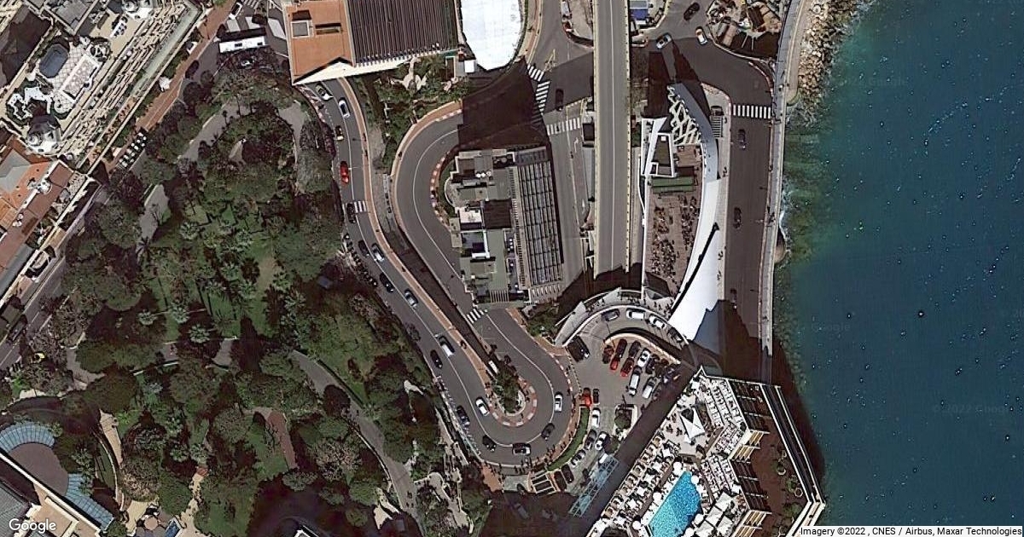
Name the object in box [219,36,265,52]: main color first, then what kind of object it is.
white vehicle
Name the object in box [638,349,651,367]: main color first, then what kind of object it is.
white vehicle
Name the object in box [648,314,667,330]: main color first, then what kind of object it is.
white car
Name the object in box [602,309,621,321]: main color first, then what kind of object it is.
gray vehicle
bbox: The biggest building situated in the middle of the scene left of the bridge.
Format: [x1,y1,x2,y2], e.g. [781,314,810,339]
[444,145,567,307]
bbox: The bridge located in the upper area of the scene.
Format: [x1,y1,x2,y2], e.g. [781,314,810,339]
[593,0,631,293]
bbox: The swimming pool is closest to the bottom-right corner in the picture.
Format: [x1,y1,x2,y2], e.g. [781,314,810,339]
[645,470,701,537]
